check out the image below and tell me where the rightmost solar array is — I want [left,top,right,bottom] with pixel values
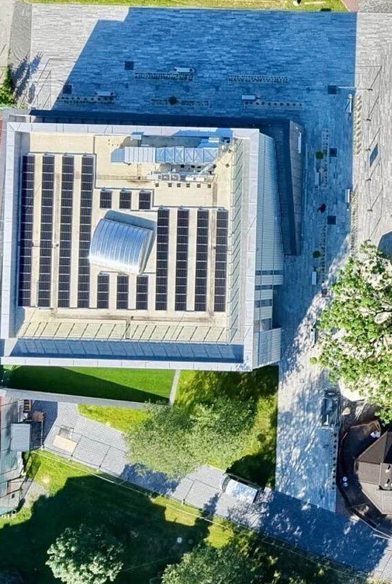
[215,207,229,313]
